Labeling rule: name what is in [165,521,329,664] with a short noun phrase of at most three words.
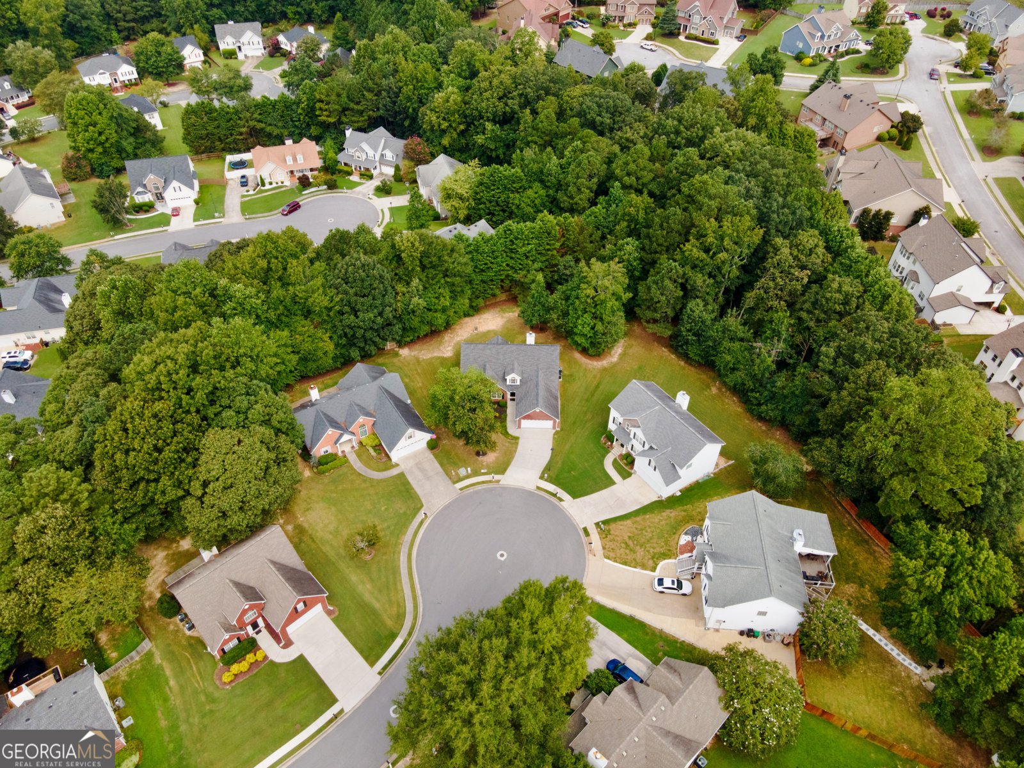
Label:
house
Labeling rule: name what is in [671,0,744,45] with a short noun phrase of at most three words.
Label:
house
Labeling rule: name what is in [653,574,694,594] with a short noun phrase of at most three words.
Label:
car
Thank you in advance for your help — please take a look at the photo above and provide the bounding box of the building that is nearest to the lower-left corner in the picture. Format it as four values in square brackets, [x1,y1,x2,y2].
[0,647,128,768]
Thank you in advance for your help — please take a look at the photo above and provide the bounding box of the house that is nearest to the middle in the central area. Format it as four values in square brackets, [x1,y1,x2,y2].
[459,324,560,432]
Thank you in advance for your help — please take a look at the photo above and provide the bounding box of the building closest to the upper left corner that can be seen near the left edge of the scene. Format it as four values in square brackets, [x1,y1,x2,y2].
[0,72,38,115]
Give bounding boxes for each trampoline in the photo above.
[0,651,45,693]
[228,158,249,169]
